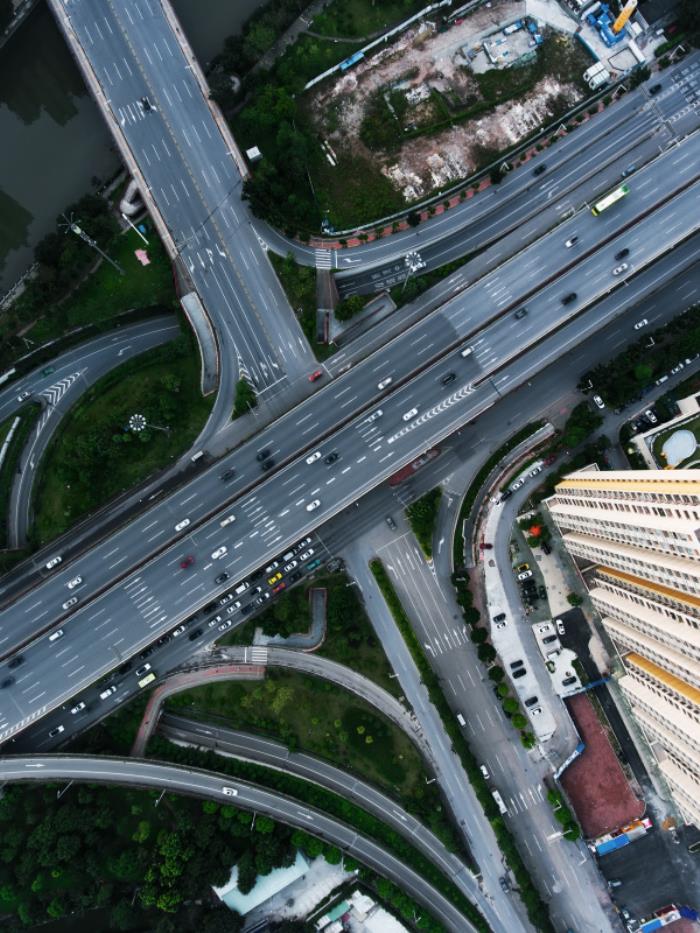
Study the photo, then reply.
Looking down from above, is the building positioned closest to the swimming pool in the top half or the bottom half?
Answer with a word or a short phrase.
bottom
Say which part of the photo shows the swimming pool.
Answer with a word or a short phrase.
right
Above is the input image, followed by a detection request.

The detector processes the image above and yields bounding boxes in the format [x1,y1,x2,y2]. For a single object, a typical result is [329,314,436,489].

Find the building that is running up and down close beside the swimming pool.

[541,472,700,853]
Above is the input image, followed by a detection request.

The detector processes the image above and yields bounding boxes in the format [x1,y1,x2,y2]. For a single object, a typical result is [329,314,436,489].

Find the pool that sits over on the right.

[664,427,700,472]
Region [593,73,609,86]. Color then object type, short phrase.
white vehicle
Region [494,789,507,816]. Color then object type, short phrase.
white vehicle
